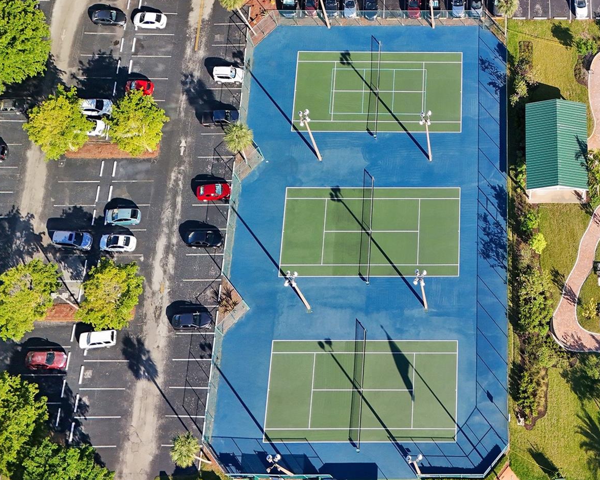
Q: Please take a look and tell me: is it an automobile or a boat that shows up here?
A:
automobile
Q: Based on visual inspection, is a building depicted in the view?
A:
Yes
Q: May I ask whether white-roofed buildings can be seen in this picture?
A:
No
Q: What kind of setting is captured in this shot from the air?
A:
sports ground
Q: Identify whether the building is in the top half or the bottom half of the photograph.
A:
top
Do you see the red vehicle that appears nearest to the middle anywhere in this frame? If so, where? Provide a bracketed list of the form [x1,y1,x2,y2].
[194,182,232,201]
